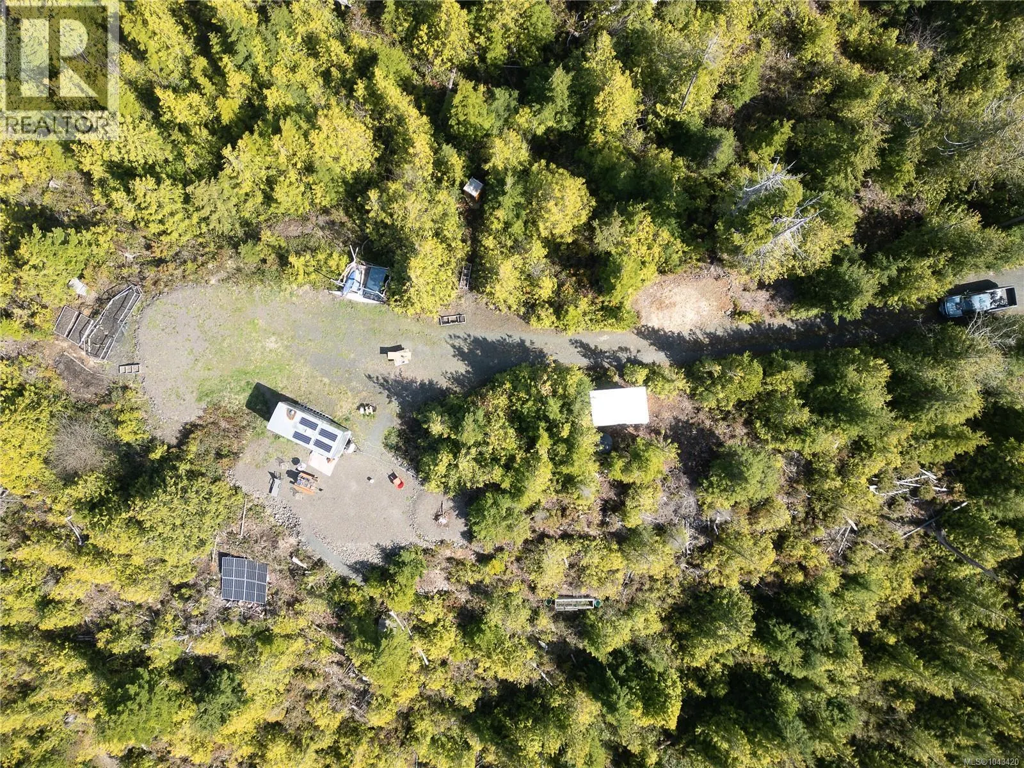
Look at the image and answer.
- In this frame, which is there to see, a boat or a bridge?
boat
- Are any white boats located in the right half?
No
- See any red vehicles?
No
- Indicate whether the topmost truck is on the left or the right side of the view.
right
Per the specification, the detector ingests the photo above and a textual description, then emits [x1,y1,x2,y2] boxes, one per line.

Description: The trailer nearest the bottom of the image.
[269,401,365,457]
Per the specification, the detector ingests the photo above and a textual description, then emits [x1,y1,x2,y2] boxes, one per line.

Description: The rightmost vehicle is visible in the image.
[935,283,1019,320]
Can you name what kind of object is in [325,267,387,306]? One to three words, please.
boat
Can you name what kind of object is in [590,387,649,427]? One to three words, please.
shed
